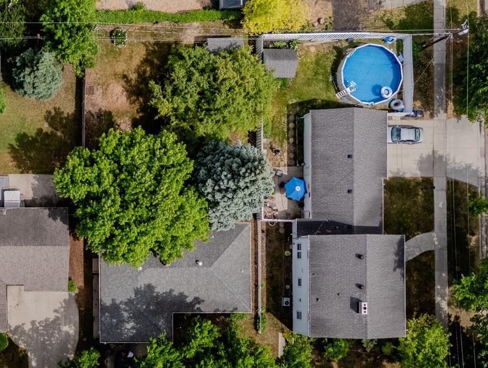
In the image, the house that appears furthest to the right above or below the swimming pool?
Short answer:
below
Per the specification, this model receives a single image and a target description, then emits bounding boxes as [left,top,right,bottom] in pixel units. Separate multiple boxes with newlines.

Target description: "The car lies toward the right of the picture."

[388,122,428,145]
